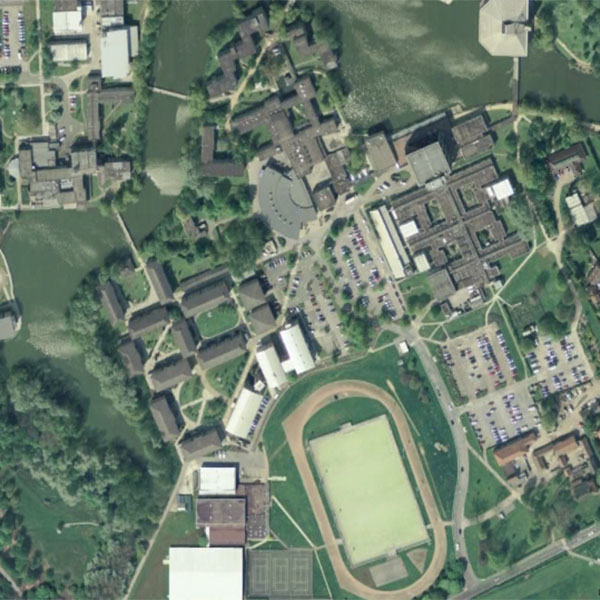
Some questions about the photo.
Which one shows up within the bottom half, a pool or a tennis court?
tennis court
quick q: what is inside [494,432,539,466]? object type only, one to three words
barn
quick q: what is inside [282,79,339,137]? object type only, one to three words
building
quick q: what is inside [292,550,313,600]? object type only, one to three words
tennis court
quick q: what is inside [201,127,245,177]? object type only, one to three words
house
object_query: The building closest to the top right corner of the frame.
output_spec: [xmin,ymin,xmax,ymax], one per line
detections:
[478,0,531,57]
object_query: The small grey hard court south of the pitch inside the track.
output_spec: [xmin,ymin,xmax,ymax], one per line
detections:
[370,558,408,587]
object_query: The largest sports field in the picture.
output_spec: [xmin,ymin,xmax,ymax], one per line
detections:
[309,414,431,568]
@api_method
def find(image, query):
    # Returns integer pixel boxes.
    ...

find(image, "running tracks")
[282,381,446,600]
